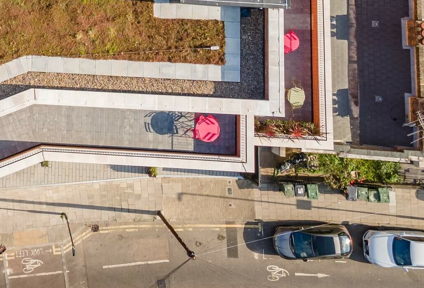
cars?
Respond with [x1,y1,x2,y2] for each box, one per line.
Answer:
[272,221,356,266]
[361,225,424,272]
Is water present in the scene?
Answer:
No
